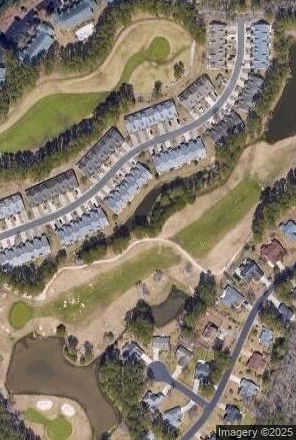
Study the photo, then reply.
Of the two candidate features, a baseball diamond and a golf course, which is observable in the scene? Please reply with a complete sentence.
The image shows a golf course.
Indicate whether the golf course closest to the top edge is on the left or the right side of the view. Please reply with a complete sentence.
The golf course closest to the top edge sits on the left side.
